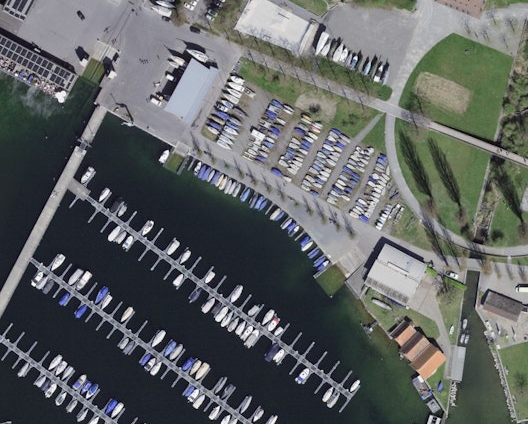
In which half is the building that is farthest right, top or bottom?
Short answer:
bottom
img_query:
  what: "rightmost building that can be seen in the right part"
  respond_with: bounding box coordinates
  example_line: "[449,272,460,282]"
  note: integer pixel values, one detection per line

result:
[483,289,524,321]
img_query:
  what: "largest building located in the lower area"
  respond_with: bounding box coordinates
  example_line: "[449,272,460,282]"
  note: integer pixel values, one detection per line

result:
[365,242,427,307]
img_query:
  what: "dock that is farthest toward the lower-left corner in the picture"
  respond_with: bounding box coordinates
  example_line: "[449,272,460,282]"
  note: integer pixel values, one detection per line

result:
[0,322,139,424]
